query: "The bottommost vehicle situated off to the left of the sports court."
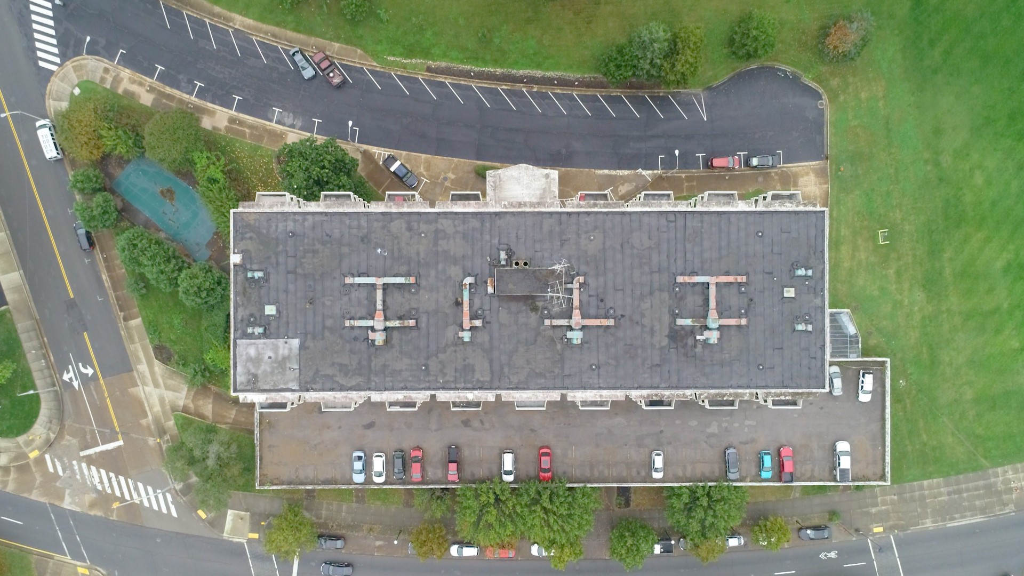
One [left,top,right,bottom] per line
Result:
[74,221,95,253]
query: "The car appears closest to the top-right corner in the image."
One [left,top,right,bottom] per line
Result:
[746,153,780,168]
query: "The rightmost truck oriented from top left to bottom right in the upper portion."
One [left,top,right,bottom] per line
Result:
[382,152,418,189]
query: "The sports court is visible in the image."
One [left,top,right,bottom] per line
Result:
[112,156,216,261]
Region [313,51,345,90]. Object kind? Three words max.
truck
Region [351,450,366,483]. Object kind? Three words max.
car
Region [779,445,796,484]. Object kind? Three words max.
vehicle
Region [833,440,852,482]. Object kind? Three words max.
vehicle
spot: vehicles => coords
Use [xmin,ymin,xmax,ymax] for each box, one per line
[371,452,386,483]
[779,445,796,484]
[828,364,843,396]
[382,152,418,189]
[651,450,665,479]
[74,221,95,253]
[290,47,316,82]
[856,368,874,402]
[35,120,62,162]
[446,445,460,480]
[537,446,553,481]
[450,542,479,558]
[321,560,354,576]
[758,450,774,479]
[833,440,852,482]
[391,449,406,481]
[708,154,739,169]
[408,446,424,482]
[313,535,346,551]
[351,450,366,483]
[501,449,516,482]
[643,538,675,553]
[407,540,436,555]
[724,446,742,480]
[313,51,345,90]
[531,542,560,558]
[746,153,780,168]
[798,524,831,541]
